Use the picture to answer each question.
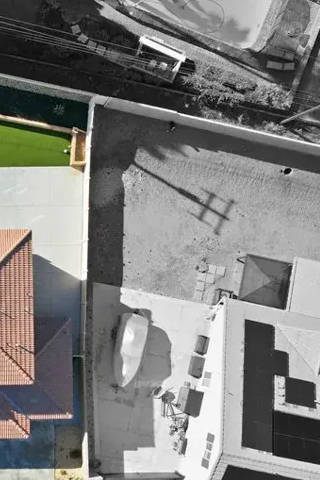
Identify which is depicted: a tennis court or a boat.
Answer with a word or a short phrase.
boat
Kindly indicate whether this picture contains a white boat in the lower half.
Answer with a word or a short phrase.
Yes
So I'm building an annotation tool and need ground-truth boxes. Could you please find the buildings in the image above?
[181,298,320,480]
[0,228,73,440]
